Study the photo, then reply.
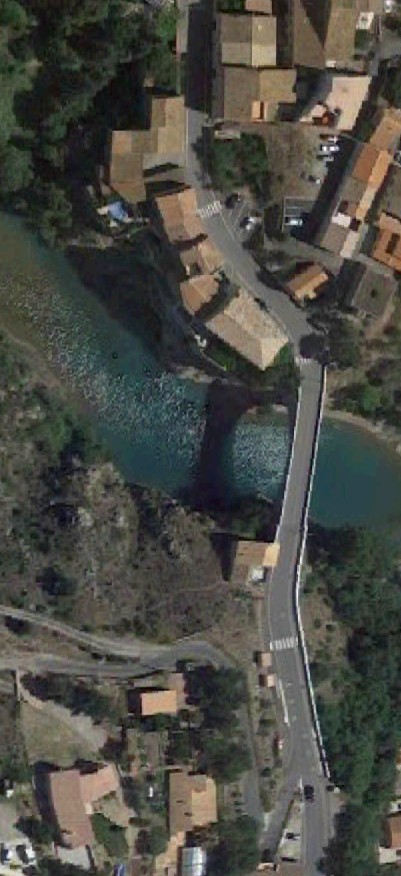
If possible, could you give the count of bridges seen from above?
1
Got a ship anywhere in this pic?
No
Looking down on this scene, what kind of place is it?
residential area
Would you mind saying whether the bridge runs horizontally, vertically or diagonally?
vertically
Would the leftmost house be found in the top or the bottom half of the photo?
bottom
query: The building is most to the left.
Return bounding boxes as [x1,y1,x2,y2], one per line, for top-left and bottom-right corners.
[48,766,120,870]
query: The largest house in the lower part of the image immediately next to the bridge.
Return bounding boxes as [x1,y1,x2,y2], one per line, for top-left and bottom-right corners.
[226,541,280,578]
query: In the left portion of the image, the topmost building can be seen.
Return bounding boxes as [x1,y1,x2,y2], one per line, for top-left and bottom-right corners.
[103,97,186,201]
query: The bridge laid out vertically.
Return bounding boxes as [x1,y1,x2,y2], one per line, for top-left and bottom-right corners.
[268,361,325,545]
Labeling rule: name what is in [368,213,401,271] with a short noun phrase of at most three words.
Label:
house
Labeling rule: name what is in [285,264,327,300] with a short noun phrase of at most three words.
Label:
house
